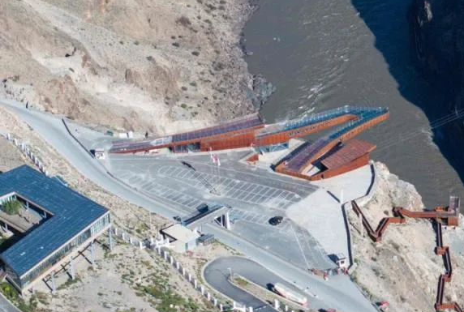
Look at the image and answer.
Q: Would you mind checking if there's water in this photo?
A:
Yes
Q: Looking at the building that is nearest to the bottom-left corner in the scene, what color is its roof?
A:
blue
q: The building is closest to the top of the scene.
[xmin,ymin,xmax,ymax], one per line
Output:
[107,106,260,155]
